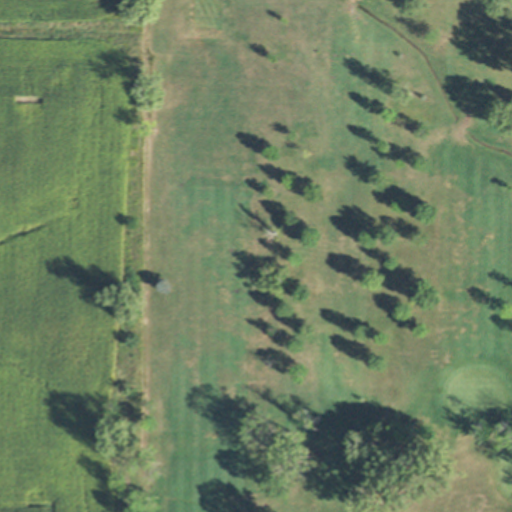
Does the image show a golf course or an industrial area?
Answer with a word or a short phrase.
golf course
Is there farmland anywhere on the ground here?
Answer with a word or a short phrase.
Yes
